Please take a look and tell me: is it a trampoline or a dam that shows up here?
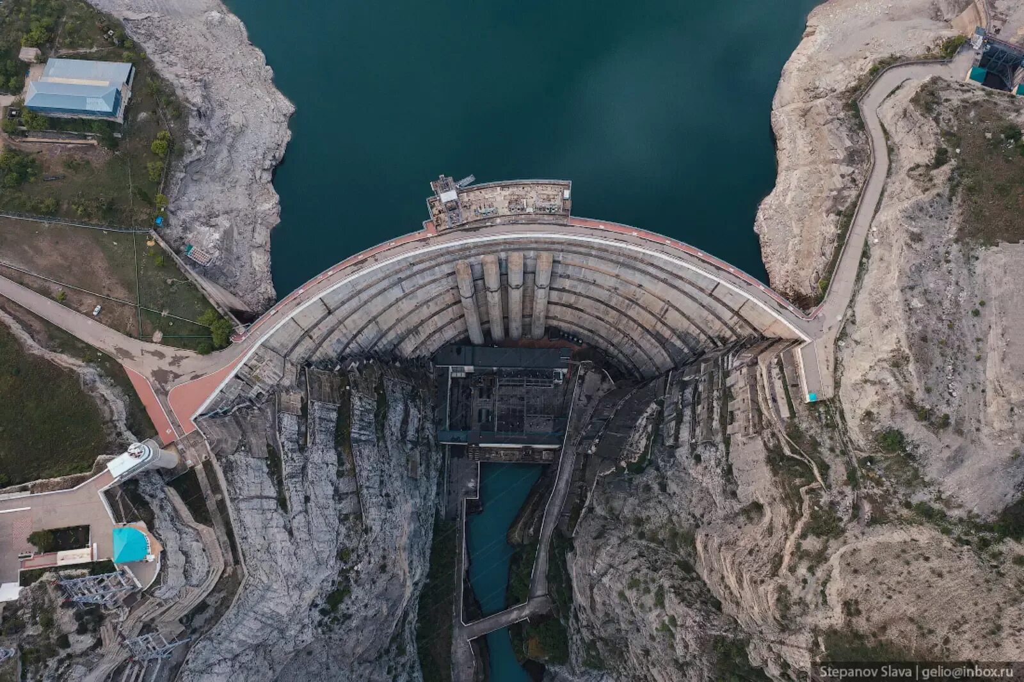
dam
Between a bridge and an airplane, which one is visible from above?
bridge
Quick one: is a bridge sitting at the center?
No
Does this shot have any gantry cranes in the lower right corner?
No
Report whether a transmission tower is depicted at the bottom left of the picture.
Yes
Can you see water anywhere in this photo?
Yes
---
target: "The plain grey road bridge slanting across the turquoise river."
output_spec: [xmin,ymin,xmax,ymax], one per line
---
[466,602,552,641]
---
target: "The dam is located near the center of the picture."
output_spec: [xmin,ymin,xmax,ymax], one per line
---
[243,218,822,383]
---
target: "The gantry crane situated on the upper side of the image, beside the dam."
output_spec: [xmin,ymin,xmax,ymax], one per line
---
[425,173,458,229]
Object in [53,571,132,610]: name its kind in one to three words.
pylon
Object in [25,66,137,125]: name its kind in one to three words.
building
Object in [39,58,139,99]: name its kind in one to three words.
building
